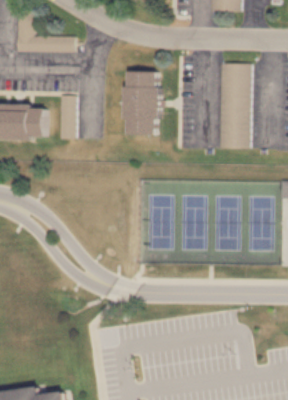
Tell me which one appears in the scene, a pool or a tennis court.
tennis court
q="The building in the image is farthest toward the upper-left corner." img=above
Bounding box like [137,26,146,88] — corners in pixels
[18,6,78,52]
